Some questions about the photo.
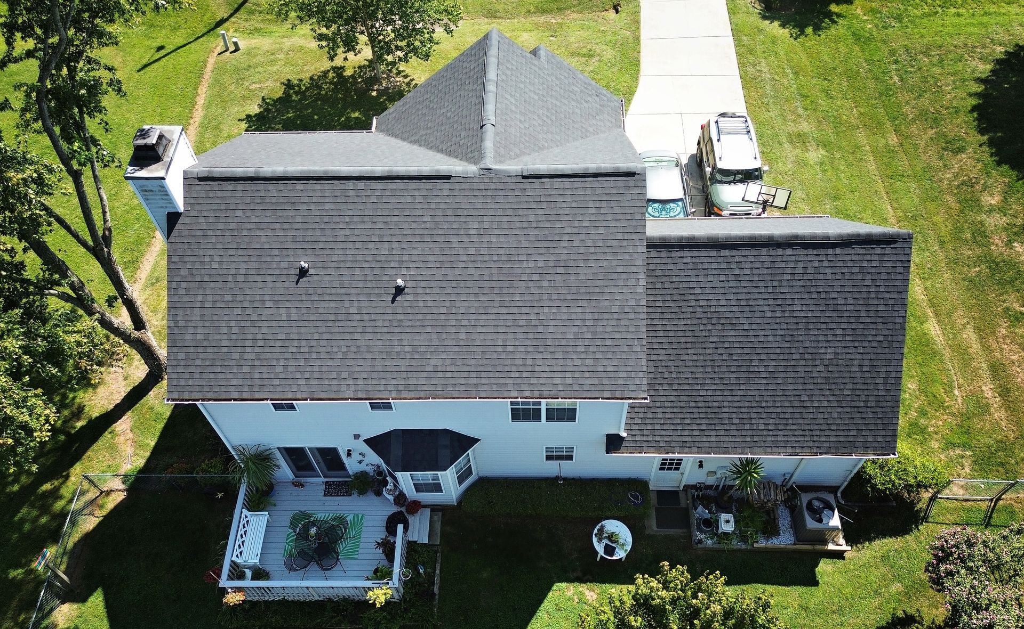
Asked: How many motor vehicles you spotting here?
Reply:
2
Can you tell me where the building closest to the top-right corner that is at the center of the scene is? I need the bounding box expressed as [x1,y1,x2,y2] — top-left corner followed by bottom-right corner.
[122,29,912,507]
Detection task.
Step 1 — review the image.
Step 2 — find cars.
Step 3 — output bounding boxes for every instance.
[636,145,699,216]
[701,111,771,216]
